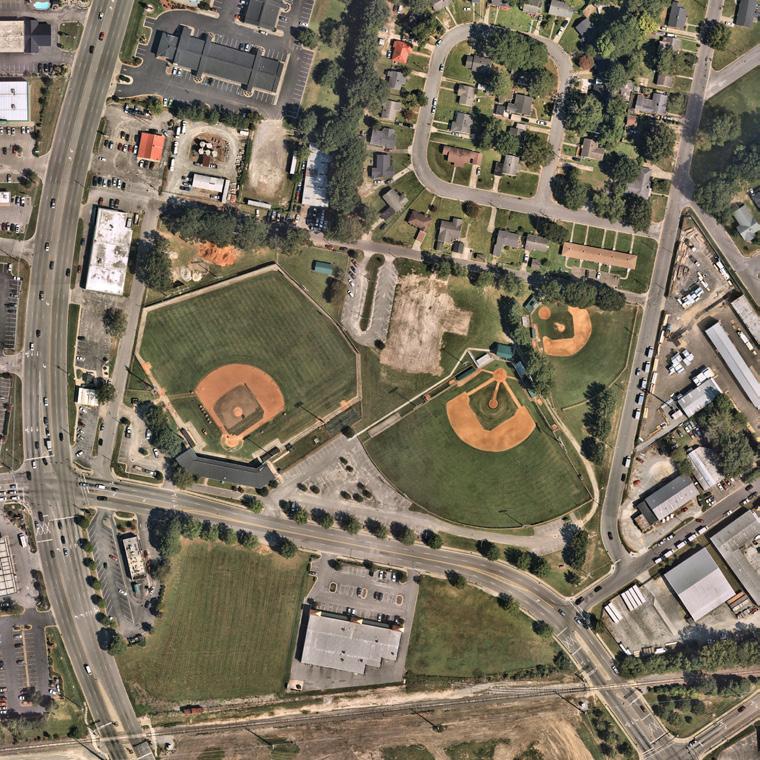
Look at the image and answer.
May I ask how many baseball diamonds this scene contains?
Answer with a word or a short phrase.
three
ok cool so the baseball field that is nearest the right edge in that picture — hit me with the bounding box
[533,304,635,406]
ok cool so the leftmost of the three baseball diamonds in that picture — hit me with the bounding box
[136,262,361,468]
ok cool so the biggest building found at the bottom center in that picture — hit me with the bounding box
[301,616,402,675]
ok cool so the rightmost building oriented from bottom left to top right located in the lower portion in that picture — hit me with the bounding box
[712,510,760,554]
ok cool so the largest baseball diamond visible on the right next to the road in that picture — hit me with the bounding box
[364,362,592,527]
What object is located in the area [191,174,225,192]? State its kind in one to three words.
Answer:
shed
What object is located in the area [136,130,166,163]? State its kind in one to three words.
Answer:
building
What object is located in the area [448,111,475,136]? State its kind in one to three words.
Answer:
house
